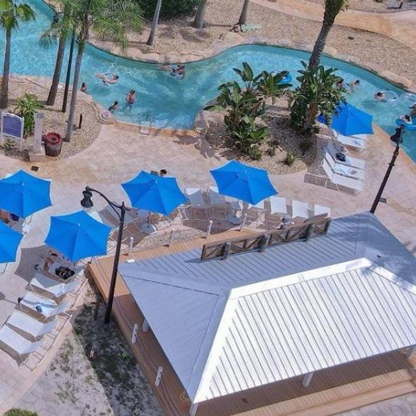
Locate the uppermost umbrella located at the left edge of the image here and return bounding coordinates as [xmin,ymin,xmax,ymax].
[0,176,52,238]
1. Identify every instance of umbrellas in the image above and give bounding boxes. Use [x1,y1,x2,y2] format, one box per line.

[212,164,275,225]
[0,176,52,238]
[122,174,187,236]
[0,225,22,261]
[46,215,110,279]
[318,107,373,154]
